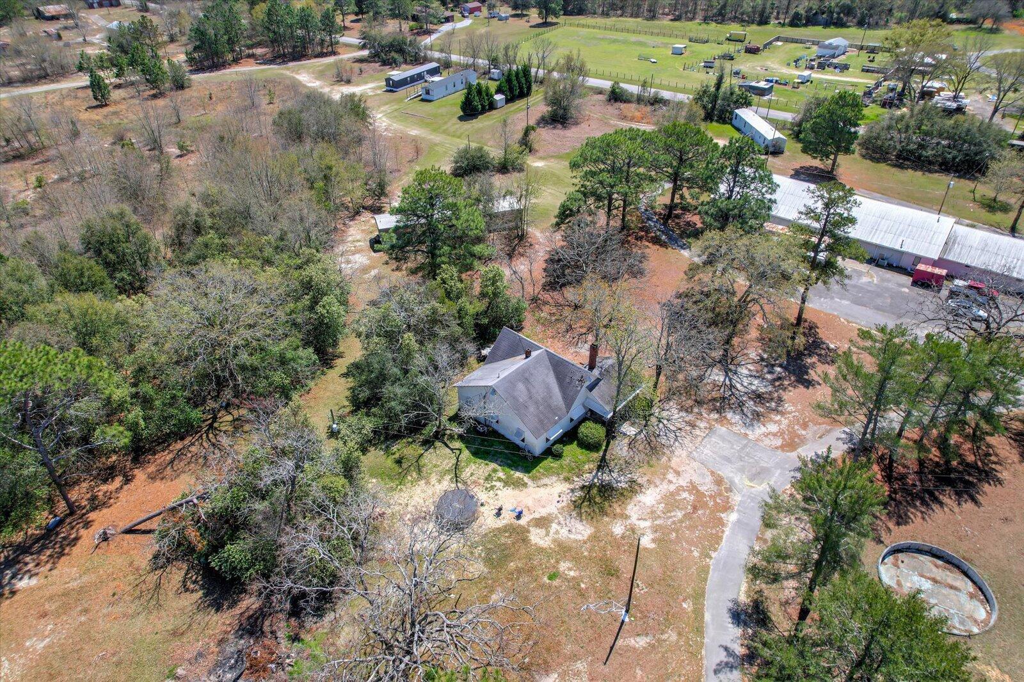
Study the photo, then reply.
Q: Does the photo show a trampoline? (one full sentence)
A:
Yes, there's a trampoline down there.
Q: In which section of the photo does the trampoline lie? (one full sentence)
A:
The trampoline appears toward the bottom of the photo.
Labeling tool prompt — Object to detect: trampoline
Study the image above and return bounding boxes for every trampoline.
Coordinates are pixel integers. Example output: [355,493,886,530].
[434,486,480,525]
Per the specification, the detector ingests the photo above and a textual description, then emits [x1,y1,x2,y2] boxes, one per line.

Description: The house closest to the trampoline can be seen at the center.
[451,327,646,455]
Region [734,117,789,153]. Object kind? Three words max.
house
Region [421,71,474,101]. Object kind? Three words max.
house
